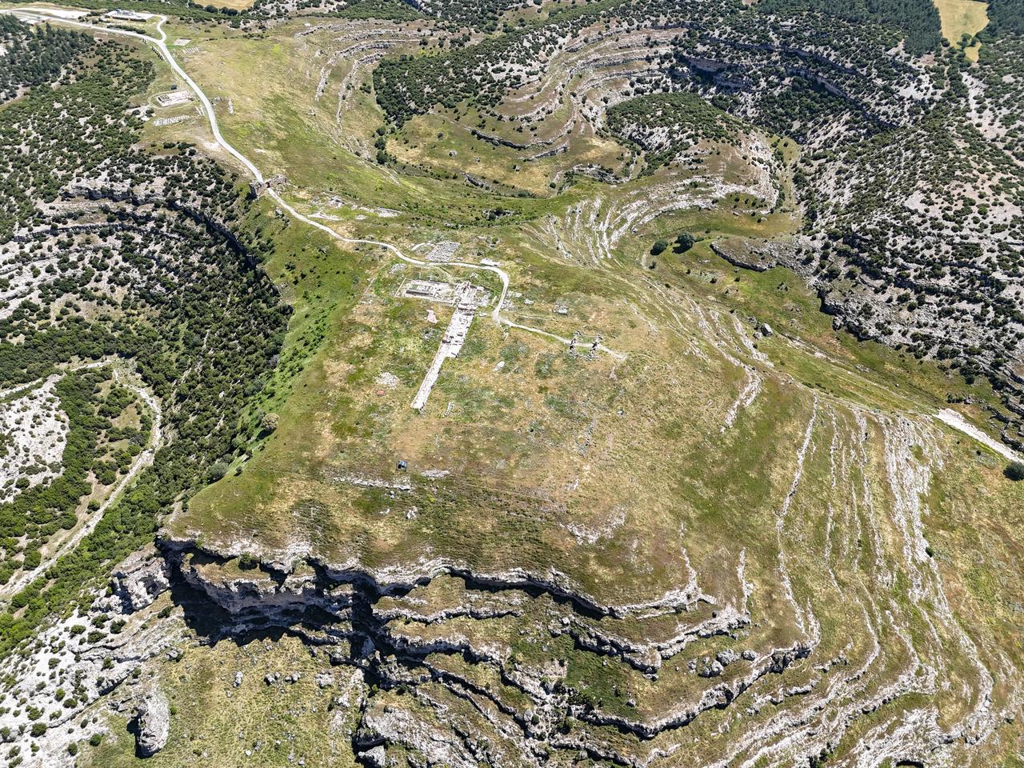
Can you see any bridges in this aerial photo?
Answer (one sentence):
No, the photo shows no bridge.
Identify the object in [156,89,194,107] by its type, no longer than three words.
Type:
building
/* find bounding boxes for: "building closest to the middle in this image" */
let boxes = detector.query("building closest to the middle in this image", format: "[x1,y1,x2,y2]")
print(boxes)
[456,281,490,309]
